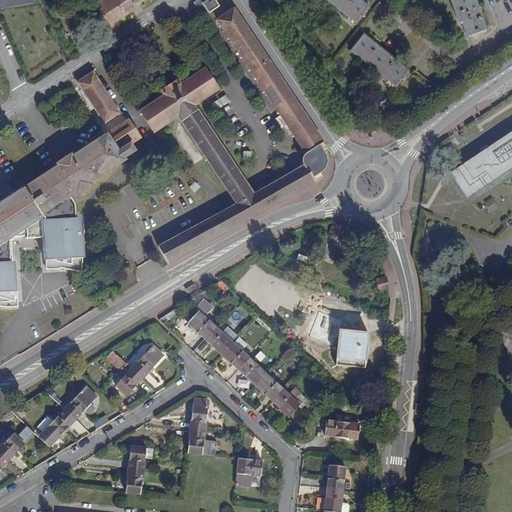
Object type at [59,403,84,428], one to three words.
house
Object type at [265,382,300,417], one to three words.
house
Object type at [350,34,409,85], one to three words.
building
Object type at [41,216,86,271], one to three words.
building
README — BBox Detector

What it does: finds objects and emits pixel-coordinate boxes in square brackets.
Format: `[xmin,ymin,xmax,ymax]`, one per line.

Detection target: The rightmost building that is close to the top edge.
[450,0,487,40]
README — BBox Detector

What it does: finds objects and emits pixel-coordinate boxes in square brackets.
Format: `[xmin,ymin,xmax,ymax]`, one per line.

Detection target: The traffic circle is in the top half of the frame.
[334,148,406,220]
